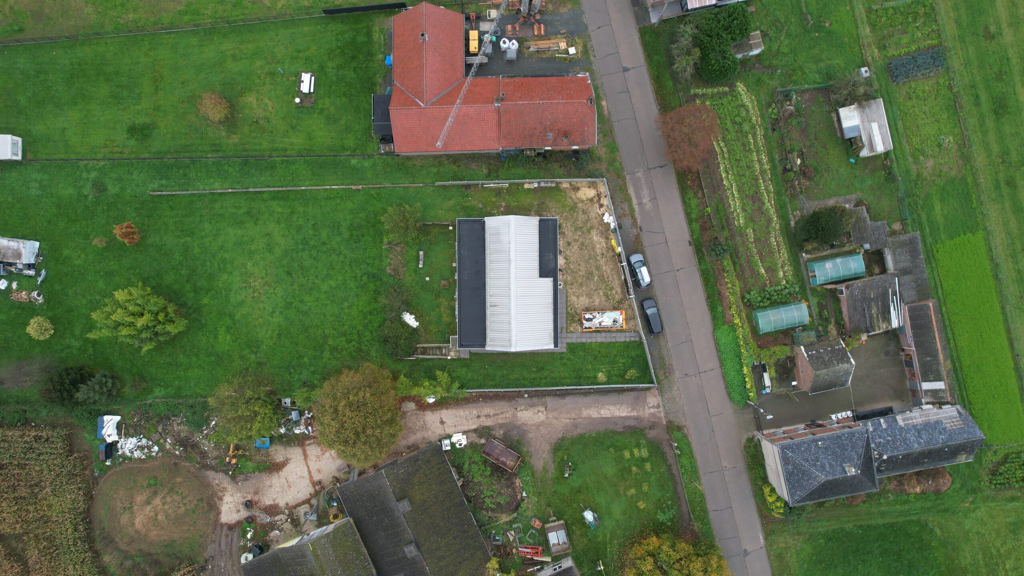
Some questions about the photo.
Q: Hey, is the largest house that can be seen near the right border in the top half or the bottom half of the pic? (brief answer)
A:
bottom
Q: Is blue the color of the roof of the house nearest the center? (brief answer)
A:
No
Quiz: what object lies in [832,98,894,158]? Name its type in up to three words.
shed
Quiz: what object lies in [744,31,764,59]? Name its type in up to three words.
shed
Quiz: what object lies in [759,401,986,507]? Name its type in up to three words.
house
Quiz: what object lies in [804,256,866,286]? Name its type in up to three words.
greenhouse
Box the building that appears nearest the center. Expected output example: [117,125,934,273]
[457,215,558,352]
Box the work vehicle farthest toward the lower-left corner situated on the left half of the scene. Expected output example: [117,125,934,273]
[224,444,249,467]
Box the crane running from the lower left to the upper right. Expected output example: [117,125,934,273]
[436,0,542,147]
